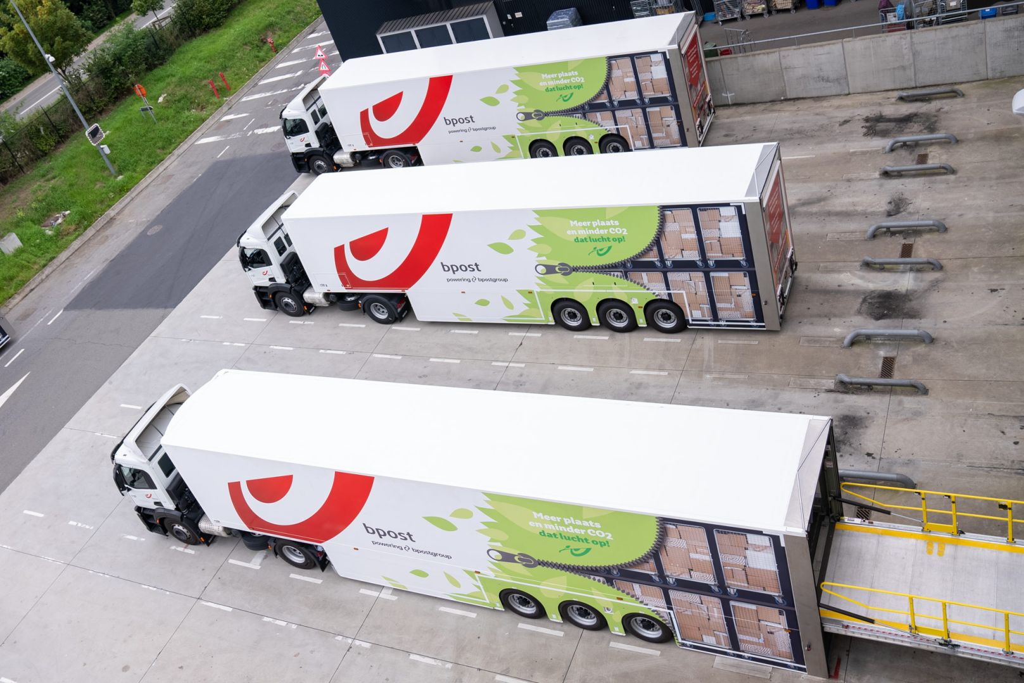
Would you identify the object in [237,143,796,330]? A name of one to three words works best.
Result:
truck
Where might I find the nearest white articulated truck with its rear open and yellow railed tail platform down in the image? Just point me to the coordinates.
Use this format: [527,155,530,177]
[110,369,1024,683]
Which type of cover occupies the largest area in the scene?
paved ground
